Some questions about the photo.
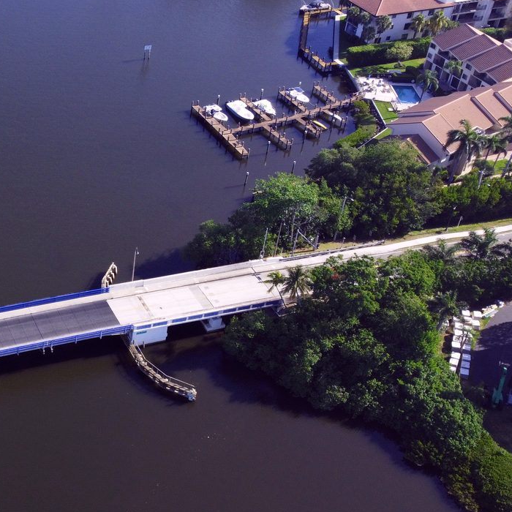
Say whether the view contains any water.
Yes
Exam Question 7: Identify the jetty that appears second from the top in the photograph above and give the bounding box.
[190,81,366,160]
